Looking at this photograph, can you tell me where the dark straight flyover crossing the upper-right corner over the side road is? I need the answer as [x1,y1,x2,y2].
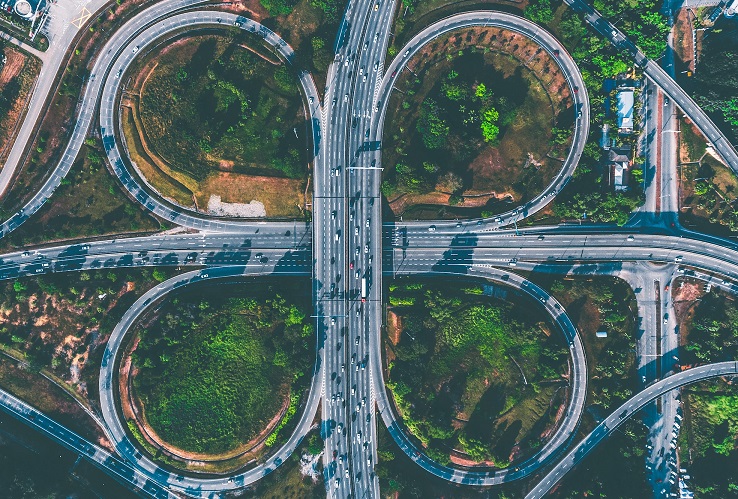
[562,0,738,174]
